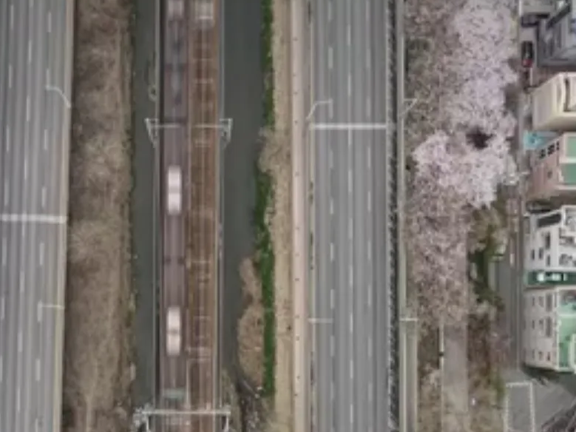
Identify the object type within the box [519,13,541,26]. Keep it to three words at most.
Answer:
vehicle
